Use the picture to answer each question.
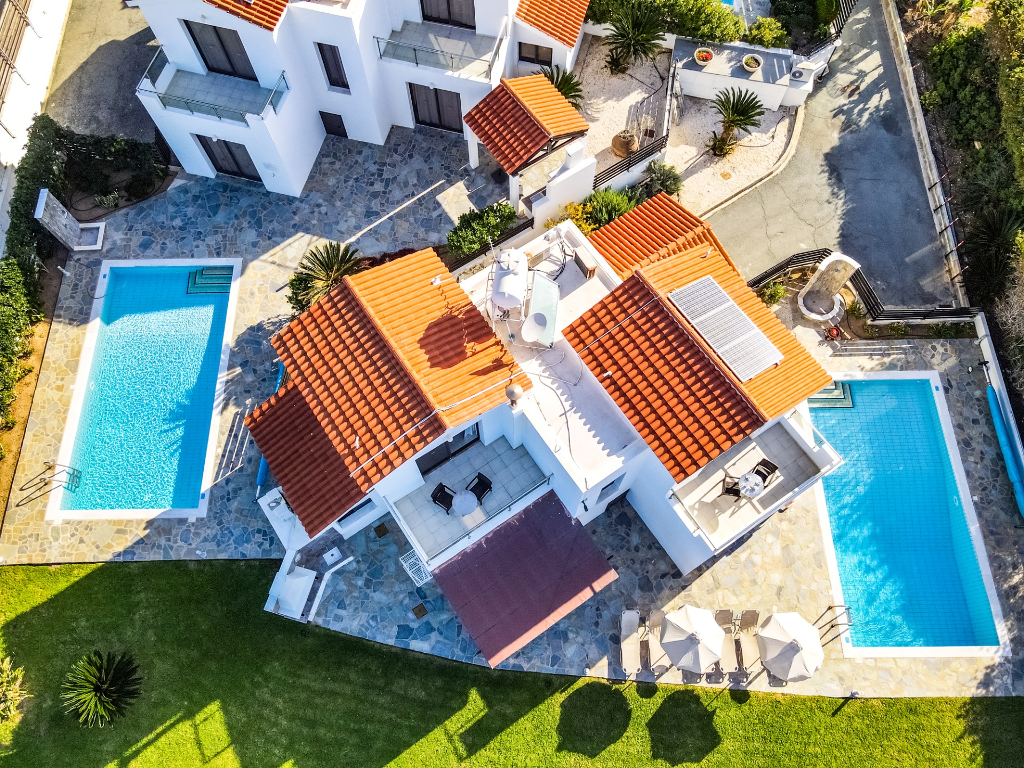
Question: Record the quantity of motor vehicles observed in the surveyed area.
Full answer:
There are no motor vehicles in this view.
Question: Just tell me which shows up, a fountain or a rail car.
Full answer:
Looking from above, you can make out a fountain.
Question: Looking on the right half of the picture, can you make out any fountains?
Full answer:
Yes, a fountain appears on the right half of the picture.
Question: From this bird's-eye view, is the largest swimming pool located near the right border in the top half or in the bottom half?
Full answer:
The bottom half of the photo is where the largest swimming pool located near the right border is.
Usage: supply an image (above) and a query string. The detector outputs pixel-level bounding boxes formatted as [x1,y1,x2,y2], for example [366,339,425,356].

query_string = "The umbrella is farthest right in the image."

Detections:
[755,612,822,683]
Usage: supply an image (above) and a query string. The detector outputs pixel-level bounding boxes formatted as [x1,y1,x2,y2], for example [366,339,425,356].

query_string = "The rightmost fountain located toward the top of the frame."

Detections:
[792,258,854,333]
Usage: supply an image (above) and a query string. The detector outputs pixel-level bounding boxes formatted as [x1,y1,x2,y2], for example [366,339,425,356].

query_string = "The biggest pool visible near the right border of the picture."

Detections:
[798,371,1012,665]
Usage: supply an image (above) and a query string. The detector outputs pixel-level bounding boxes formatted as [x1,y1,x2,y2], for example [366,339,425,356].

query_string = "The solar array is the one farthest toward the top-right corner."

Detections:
[670,272,784,380]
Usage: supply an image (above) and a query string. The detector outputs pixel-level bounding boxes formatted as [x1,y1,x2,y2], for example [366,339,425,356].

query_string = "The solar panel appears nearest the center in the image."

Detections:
[532,271,562,354]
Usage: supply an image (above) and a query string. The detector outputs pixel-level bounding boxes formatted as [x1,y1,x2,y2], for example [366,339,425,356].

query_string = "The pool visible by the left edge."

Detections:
[45,257,242,524]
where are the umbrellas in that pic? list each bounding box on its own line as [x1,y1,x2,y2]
[755,612,822,683]
[660,604,726,675]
